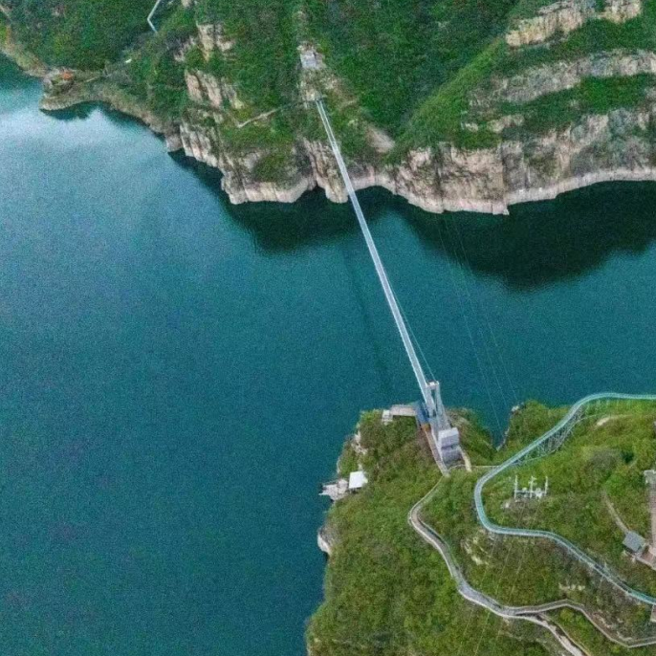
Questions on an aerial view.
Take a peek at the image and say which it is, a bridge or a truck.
bridge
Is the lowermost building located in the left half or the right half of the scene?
right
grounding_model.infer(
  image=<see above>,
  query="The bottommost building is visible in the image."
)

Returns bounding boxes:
[621,532,649,562]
